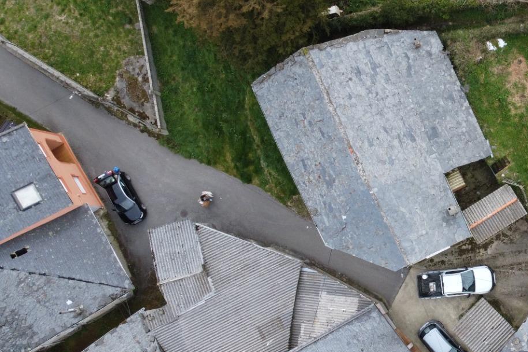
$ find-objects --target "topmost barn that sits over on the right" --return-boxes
[249,25,493,271]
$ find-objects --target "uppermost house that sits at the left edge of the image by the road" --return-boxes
[0,120,107,258]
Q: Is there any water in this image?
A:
No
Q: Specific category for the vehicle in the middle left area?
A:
automobile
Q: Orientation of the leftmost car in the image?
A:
on a diagonal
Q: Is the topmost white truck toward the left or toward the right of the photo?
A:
right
